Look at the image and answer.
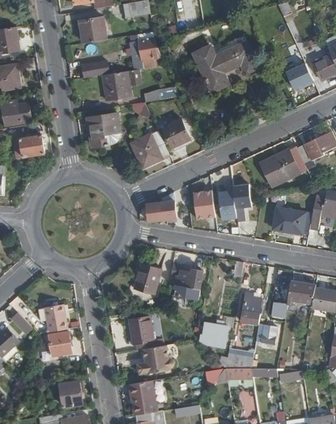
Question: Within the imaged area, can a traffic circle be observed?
Yes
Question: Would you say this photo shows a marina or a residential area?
residential area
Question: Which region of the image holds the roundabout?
left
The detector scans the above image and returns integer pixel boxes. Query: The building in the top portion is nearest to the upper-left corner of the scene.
[0,26,25,60]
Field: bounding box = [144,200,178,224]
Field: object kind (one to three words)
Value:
house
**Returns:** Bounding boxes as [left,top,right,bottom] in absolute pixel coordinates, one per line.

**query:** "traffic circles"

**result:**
[19,161,139,281]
